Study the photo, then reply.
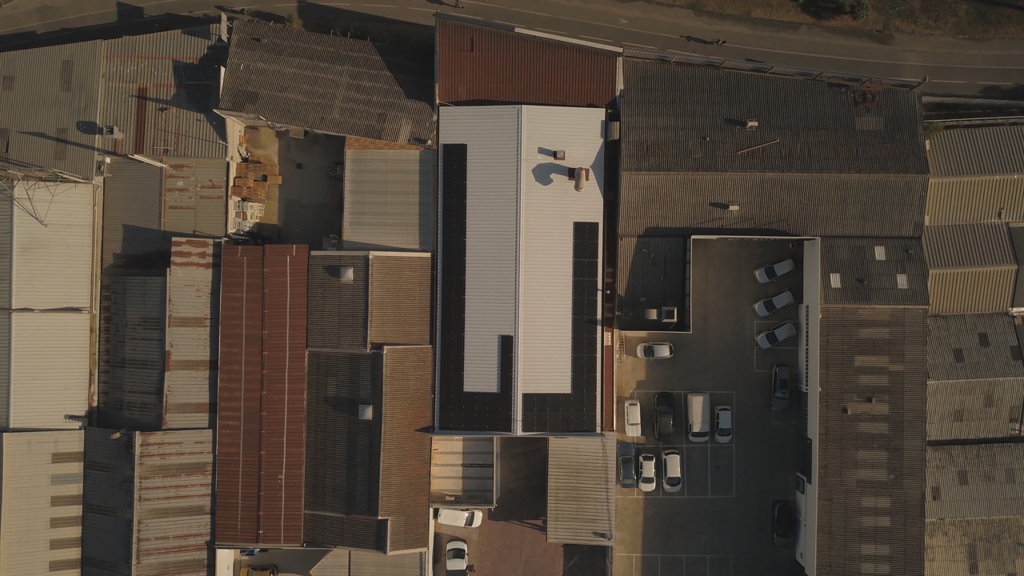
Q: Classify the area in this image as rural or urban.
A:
urban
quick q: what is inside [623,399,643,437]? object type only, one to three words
car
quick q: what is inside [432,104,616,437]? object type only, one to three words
warehouse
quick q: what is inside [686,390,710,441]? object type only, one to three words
vehicle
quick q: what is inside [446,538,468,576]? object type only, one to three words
truck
